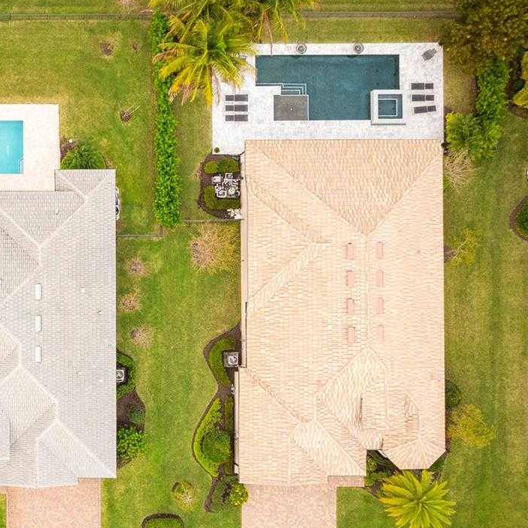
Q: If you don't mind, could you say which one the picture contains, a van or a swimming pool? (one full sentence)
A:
The one in the frame is a swimming pool.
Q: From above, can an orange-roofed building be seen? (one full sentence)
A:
No, no orange-roofed building is visible in the view.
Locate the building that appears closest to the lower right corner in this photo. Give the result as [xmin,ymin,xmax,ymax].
[233,138,446,489]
